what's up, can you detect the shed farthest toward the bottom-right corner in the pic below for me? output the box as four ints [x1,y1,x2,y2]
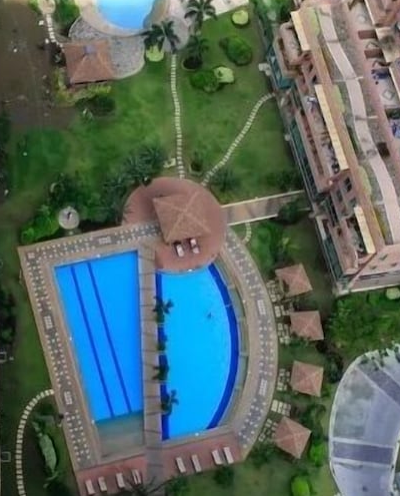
[271,417,311,460]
